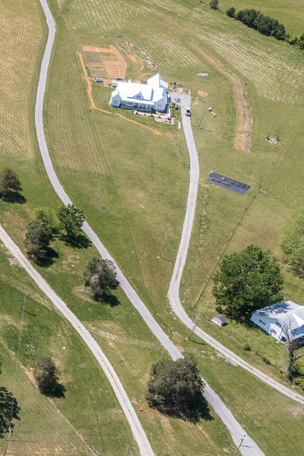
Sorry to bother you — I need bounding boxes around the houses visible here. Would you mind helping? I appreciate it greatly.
[110,74,172,113]
[251,300,304,345]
